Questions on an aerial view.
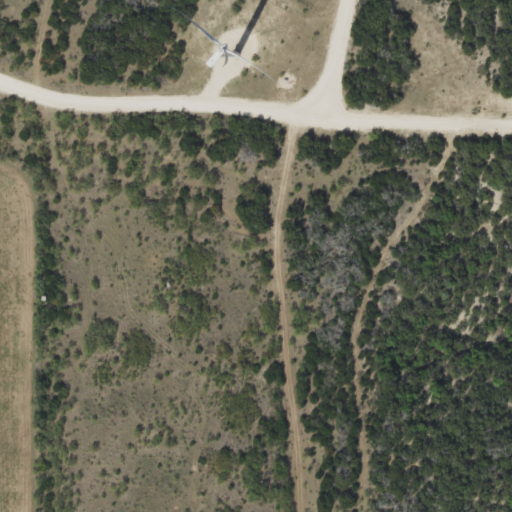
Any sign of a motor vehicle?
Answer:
No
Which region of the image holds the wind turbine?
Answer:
top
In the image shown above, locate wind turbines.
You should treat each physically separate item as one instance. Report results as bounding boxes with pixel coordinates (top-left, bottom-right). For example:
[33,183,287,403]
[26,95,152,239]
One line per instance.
[173,0,278,77]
